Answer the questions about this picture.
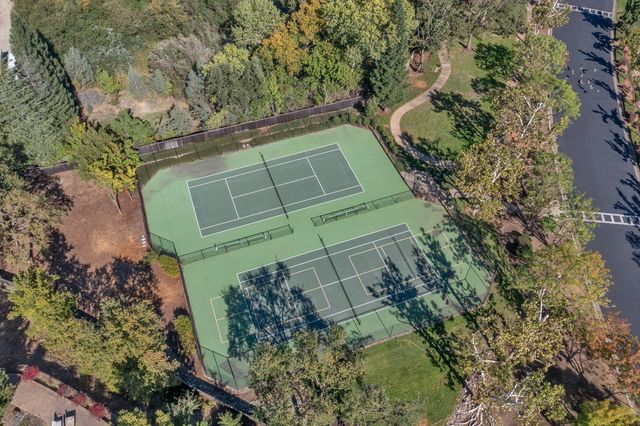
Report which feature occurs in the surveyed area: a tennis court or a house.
tennis court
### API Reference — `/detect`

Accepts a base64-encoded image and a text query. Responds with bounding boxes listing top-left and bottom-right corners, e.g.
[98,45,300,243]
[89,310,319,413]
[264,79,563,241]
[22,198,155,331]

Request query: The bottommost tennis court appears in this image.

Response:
[181,198,491,392]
